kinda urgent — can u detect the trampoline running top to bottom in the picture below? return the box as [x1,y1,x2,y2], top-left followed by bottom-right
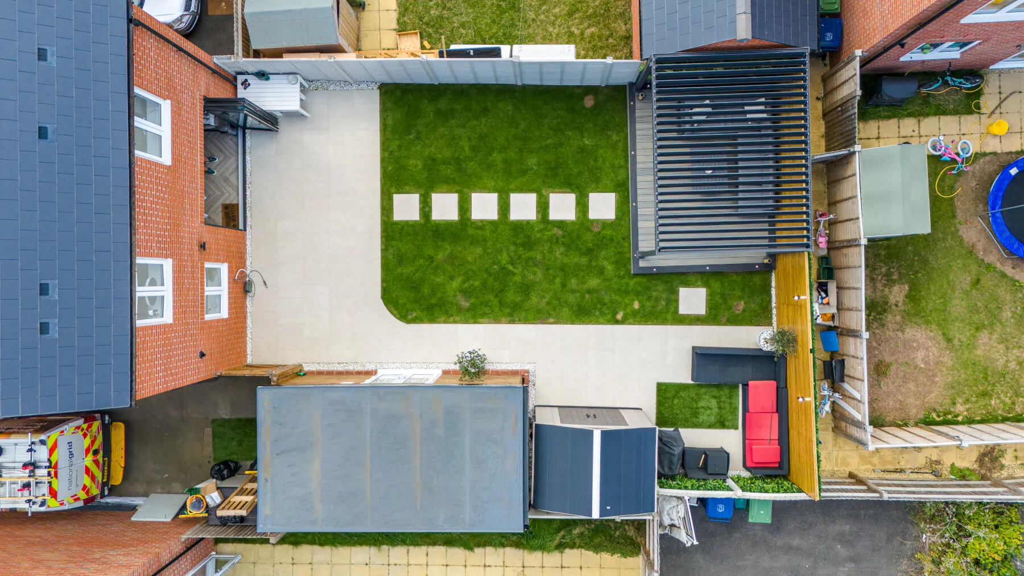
[977,157,1024,258]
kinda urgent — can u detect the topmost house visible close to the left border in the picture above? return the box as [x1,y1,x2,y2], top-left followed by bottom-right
[0,0,250,417]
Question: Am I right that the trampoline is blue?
Yes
